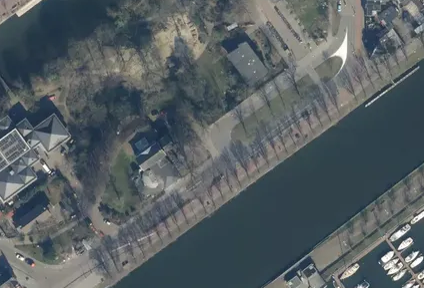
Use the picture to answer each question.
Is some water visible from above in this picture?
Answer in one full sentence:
Yes, water can be seen from above here.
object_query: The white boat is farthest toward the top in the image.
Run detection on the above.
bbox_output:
[409,210,424,226]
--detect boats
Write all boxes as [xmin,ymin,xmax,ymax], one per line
[409,256,424,269]
[331,277,340,288]
[402,280,416,288]
[397,236,415,251]
[409,210,424,226]
[389,222,412,241]
[382,258,399,272]
[357,281,370,288]
[379,251,395,263]
[404,251,419,263]
[340,262,361,280]
[388,261,404,275]
[391,269,406,282]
